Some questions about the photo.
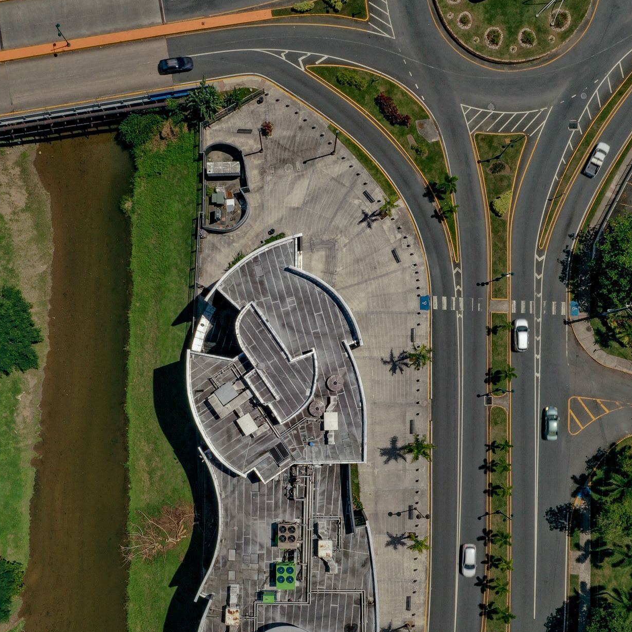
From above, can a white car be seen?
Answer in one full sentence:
Yes, the image includes a white car.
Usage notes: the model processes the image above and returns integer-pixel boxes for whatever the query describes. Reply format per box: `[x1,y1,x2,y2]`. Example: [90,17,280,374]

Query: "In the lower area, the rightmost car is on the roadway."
[543,407,560,440]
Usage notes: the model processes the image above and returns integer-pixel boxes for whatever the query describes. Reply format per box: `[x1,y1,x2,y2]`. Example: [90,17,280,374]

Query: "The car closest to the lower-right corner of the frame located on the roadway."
[461,543,477,576]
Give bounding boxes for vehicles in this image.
[512,320,530,352]
[461,543,477,576]
[158,57,195,78]
[581,141,609,182]
[543,407,560,440]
